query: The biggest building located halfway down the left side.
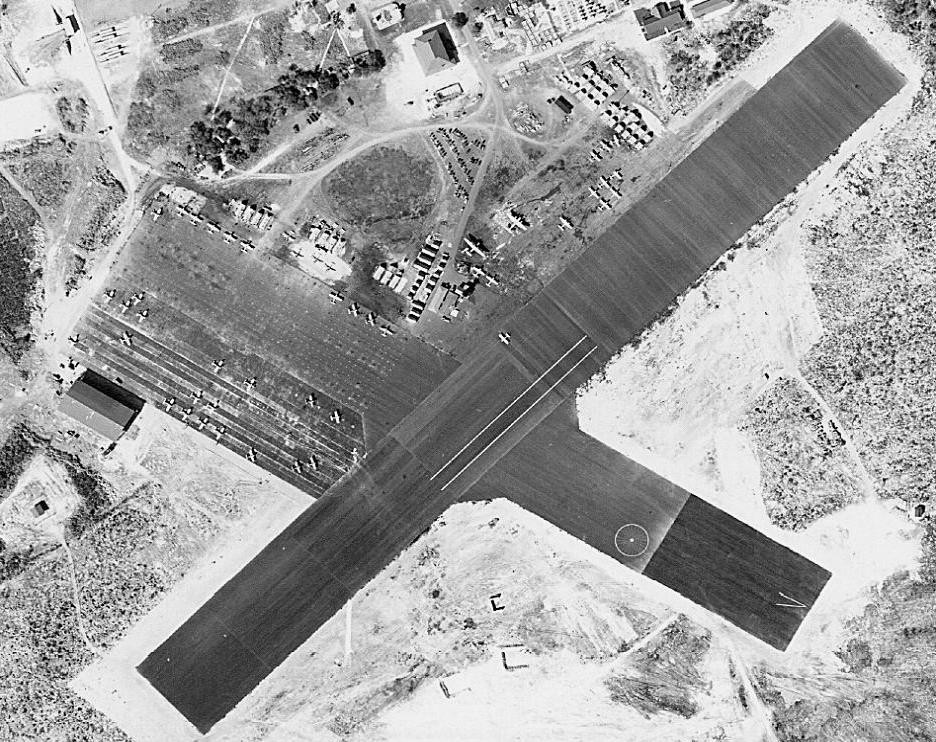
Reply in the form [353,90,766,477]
[60,377,137,441]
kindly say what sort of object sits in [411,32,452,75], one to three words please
building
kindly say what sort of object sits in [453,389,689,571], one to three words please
runway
